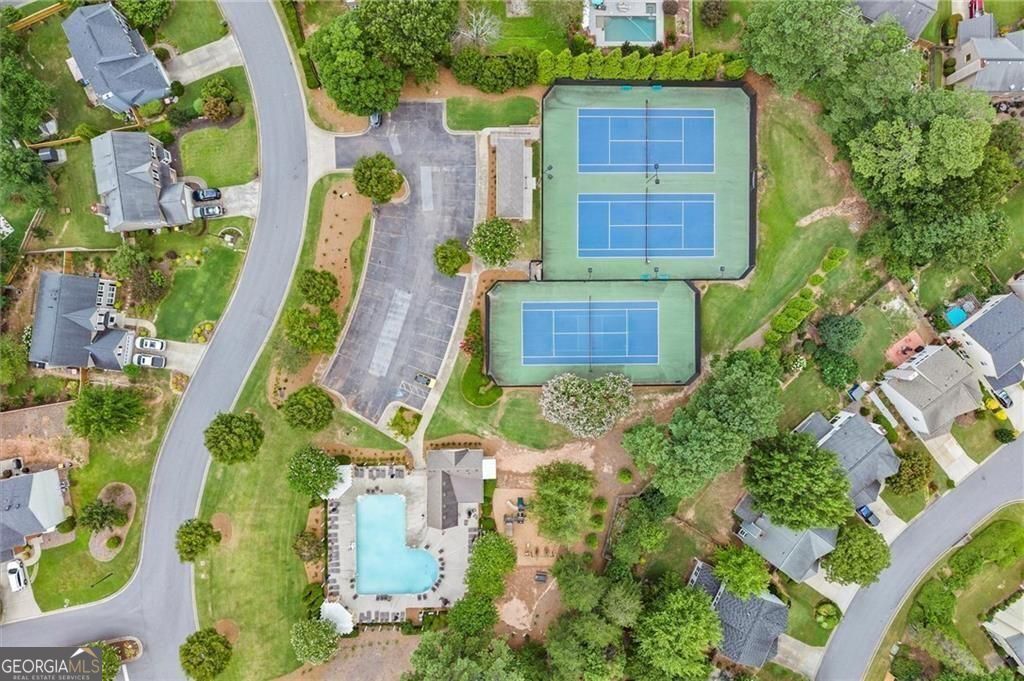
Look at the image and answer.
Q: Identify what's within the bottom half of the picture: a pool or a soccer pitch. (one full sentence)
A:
It is a pool that can be seen within the bottom half of the picture.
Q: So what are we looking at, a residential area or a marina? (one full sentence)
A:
The picture captures a residential area.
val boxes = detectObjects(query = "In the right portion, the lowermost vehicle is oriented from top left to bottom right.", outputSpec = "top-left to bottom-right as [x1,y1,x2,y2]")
[858,503,887,532]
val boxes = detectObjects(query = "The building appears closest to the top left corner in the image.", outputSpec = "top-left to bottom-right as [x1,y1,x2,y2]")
[60,0,182,118]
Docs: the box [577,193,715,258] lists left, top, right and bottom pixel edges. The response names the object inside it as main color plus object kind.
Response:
blue tennis court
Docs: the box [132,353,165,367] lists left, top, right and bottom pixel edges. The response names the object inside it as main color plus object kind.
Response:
white vehicle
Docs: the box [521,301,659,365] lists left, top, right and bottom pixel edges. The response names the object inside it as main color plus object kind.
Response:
blue tennis court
